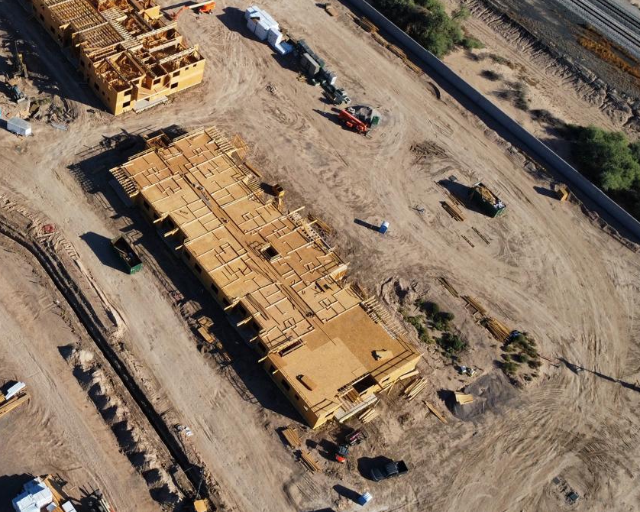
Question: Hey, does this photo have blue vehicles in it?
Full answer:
No, I find no blue vehicle anywhere in the image.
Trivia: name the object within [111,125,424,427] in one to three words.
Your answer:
building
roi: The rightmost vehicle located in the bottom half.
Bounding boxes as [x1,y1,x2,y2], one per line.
[368,458,412,486]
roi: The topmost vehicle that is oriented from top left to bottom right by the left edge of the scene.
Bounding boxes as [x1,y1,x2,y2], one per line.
[1,69,29,101]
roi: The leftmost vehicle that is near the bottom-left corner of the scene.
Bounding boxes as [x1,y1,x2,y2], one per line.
[81,465,112,512]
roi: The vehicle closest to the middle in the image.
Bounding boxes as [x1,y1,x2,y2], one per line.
[340,110,379,140]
